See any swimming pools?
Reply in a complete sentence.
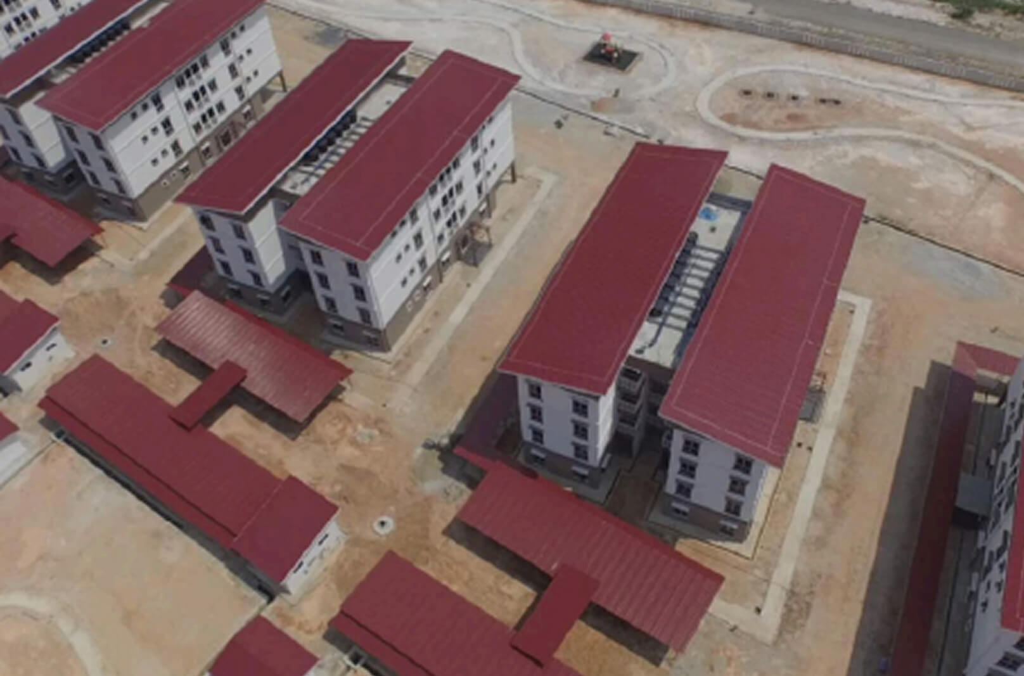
No, there's no swimming pool here.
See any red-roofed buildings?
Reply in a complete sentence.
Yes, a red-roofed building appears in the view.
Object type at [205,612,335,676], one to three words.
house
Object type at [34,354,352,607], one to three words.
building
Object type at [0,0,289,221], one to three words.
building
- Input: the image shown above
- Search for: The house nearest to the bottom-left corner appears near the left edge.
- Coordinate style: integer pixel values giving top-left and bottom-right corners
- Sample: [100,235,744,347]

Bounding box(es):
[0,416,41,485]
